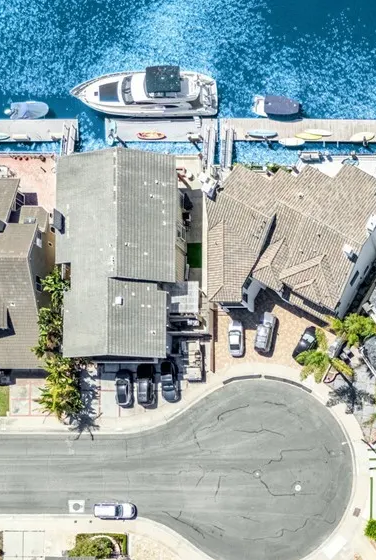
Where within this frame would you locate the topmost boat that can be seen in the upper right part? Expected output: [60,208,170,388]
[250,96,302,116]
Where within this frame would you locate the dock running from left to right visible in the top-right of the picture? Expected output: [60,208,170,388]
[220,119,376,143]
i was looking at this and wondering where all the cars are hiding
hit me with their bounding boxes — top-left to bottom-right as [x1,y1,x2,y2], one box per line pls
[160,361,181,401]
[226,318,247,358]
[254,312,279,355]
[290,324,318,362]
[134,364,157,405]
[96,500,138,520]
[114,370,135,406]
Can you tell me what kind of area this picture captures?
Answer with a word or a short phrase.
residential area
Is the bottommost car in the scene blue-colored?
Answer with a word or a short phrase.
No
